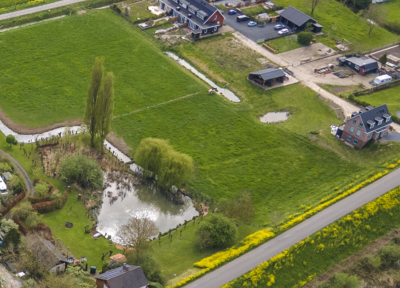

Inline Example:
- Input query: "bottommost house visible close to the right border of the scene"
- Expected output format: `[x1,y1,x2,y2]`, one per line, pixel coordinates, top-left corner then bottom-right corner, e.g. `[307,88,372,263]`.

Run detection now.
[343,104,392,146]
